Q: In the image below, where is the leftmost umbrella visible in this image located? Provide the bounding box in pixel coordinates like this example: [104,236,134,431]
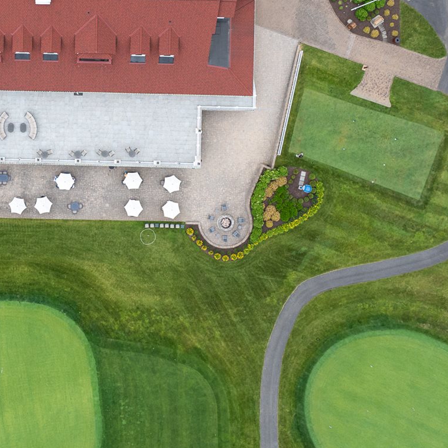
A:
[6,195,25,214]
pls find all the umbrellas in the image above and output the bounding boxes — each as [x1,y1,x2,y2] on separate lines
[33,195,52,215]
[53,172,74,191]
[124,171,143,189]
[124,200,143,217]
[160,200,179,221]
[162,173,180,193]
[6,195,25,214]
